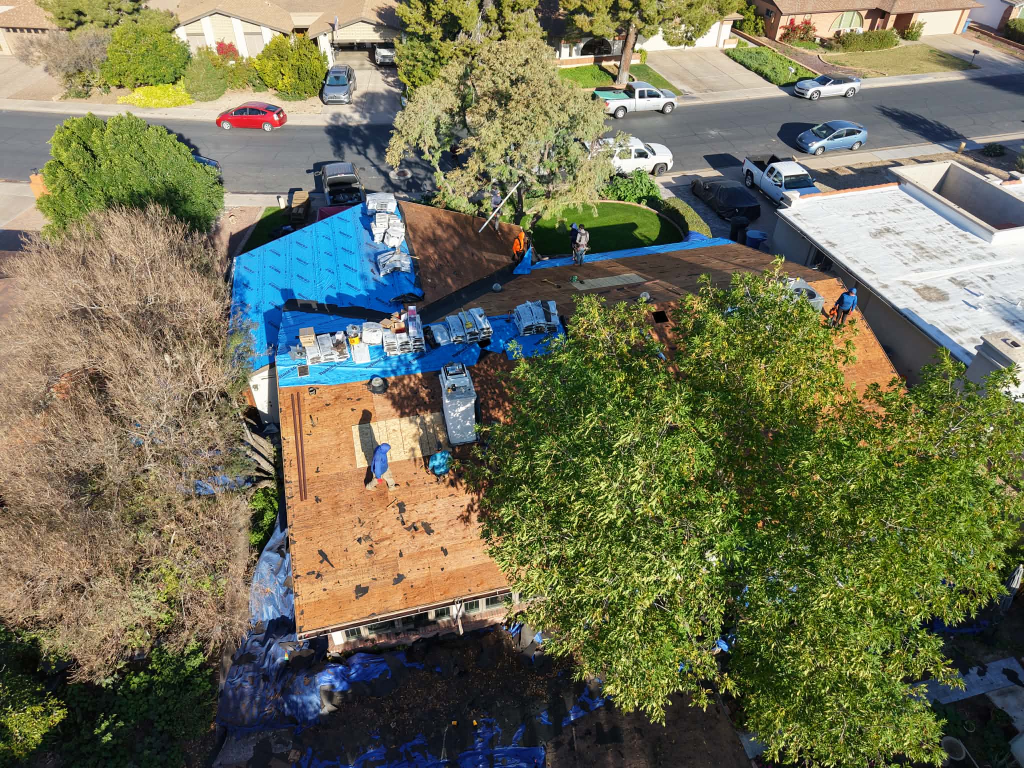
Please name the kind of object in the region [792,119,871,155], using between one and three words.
car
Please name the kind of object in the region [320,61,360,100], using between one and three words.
car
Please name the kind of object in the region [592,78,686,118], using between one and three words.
truck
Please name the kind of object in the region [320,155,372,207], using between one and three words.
truck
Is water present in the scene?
No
